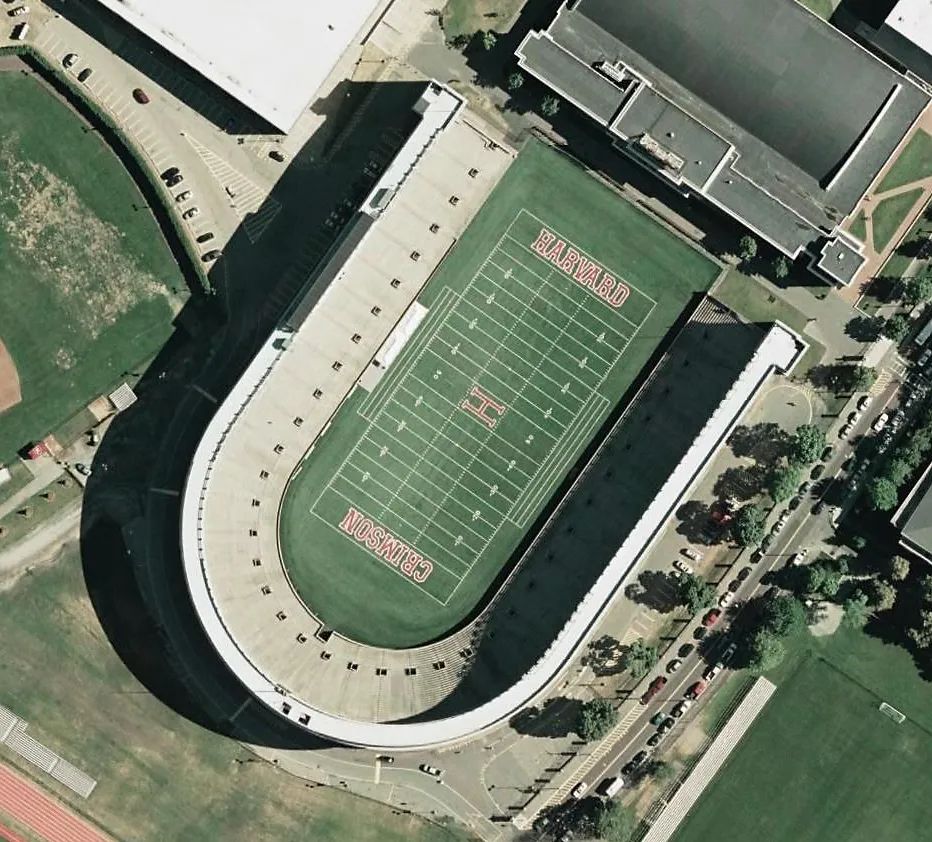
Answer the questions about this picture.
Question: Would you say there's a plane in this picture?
No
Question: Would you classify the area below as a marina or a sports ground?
sports ground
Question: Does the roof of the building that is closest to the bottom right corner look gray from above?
Yes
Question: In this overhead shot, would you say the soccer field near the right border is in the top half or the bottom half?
bottom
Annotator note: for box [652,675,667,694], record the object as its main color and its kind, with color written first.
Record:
red vehicle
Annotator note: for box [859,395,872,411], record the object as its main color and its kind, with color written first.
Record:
white vehicle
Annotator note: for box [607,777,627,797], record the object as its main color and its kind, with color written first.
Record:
white vehicle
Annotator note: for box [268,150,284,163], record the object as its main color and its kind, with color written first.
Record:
black vehicle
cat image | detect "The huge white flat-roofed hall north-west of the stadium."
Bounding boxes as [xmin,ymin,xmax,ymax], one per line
[98,0,387,134]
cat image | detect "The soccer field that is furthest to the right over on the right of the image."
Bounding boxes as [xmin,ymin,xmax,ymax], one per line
[663,655,932,842]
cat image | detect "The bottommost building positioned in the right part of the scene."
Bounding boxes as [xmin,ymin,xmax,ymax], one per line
[893,471,932,564]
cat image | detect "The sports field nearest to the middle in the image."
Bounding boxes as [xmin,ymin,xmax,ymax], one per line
[279,135,726,649]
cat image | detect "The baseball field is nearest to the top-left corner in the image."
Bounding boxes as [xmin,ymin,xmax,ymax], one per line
[0,53,206,456]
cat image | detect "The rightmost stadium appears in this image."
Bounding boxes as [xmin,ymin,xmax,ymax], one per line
[182,80,809,746]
